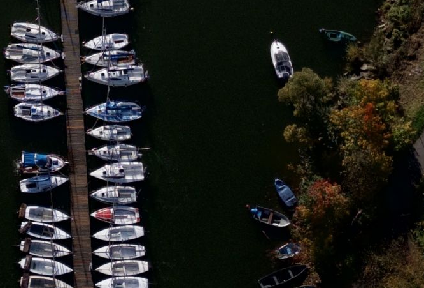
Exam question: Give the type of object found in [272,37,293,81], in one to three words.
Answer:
boat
